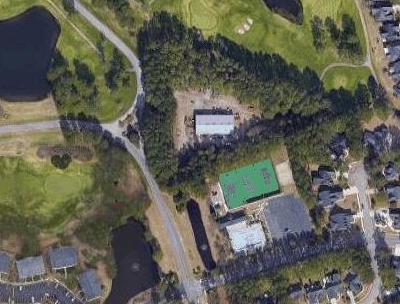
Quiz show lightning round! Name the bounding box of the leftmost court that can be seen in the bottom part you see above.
[220,170,247,208]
